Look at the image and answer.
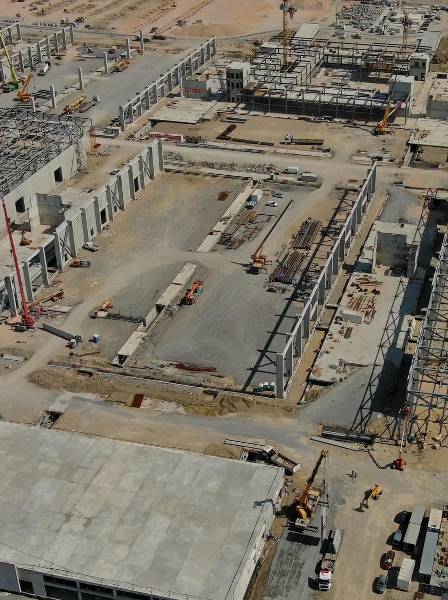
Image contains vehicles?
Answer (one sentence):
Yes, there's a vehicle here.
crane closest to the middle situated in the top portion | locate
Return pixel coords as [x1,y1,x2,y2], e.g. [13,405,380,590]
[245,199,294,271]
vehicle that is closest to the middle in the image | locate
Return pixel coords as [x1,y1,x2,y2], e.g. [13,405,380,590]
[183,276,204,302]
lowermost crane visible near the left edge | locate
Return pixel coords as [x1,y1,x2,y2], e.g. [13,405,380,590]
[3,199,46,333]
